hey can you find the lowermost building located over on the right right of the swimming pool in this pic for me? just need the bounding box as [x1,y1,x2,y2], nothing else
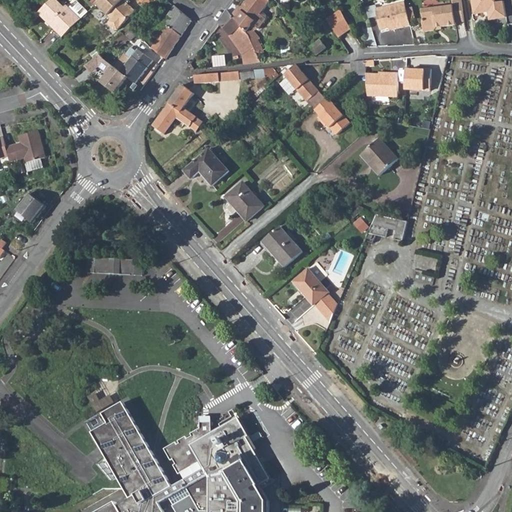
[414,254,438,270]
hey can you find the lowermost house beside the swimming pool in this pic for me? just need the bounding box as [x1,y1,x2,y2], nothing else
[316,294,338,321]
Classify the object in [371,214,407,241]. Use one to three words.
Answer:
building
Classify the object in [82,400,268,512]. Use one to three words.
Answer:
building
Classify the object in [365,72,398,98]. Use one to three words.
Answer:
house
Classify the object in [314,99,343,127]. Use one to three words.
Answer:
house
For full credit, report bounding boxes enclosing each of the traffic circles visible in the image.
[76,120,144,188]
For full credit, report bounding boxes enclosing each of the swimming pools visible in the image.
[327,250,357,288]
